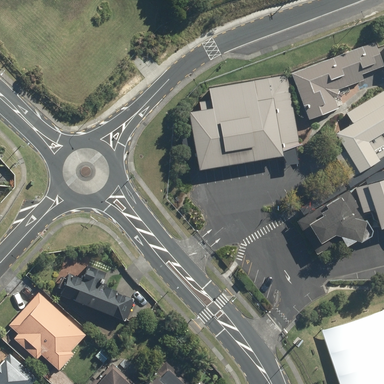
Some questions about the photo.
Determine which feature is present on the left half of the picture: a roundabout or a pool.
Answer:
roundabout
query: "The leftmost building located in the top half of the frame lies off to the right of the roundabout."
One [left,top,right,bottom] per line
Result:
[190,76,301,170]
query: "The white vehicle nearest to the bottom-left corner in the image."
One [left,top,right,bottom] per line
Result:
[12,292,25,308]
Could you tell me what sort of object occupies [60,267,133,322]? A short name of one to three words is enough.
house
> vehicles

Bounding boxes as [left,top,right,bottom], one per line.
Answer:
[12,292,25,308]
[132,290,148,306]
[20,284,33,300]
[258,276,274,294]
